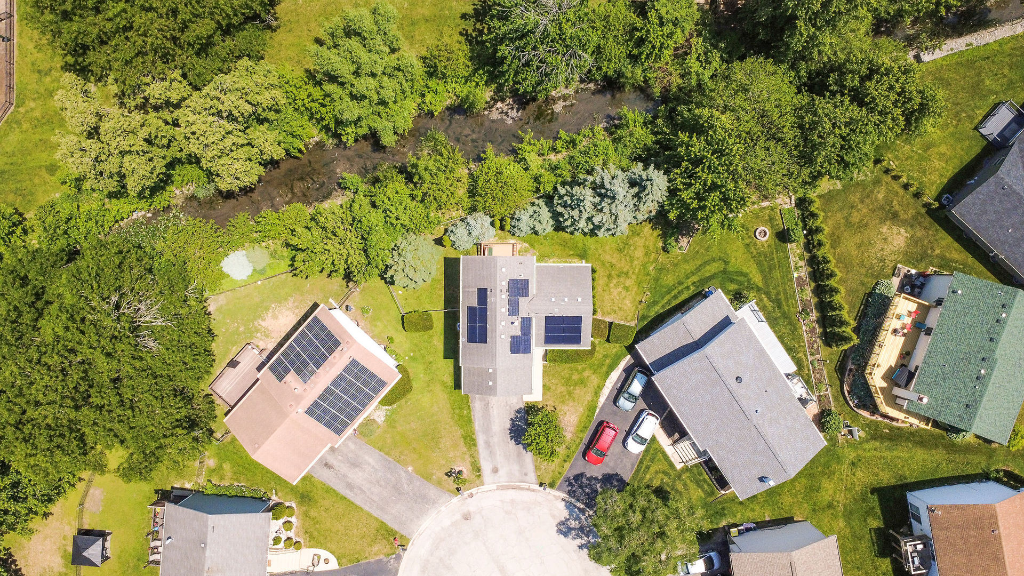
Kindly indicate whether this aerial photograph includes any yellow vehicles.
No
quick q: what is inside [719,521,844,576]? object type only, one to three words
house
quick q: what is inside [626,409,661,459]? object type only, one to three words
car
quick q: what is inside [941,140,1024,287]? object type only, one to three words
house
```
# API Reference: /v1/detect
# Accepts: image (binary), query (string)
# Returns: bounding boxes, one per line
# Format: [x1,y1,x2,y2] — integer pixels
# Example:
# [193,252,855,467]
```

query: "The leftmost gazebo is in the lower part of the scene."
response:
[71,528,116,566]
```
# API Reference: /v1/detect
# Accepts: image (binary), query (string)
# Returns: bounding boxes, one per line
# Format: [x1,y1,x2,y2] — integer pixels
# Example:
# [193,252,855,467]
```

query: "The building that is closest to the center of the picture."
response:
[459,255,594,396]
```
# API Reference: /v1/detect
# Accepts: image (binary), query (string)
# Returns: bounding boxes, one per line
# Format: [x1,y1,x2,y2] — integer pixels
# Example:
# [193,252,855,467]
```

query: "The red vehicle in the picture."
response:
[586,421,619,469]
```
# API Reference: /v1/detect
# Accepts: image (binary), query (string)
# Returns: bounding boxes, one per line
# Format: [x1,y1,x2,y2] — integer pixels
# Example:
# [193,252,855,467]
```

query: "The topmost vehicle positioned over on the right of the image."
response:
[617,366,652,416]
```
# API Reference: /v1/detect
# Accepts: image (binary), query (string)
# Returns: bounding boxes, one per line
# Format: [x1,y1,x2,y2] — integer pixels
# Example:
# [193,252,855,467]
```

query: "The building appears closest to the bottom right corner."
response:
[903,479,1024,576]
